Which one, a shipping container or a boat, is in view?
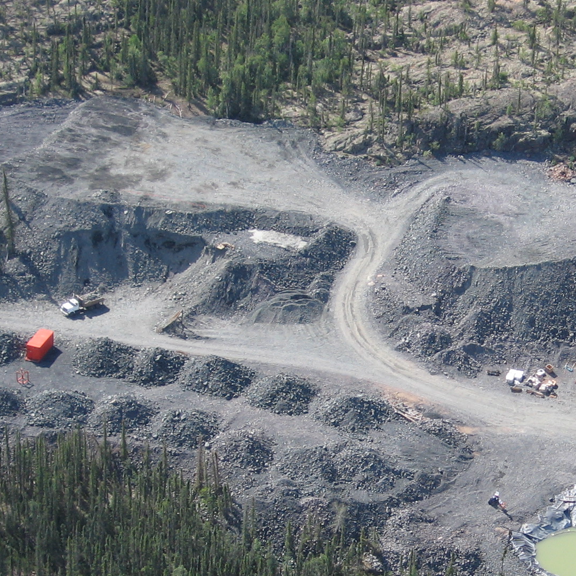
shipping container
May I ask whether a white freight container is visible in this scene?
No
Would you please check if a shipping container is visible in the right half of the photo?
No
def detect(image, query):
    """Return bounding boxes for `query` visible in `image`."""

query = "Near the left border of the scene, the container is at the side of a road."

[25,328,52,363]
